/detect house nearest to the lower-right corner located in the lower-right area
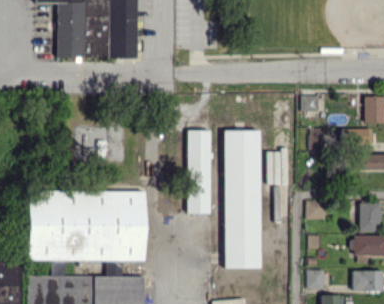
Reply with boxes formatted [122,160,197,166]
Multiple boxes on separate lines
[352,270,384,291]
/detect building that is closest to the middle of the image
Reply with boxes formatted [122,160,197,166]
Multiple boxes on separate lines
[187,130,212,214]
